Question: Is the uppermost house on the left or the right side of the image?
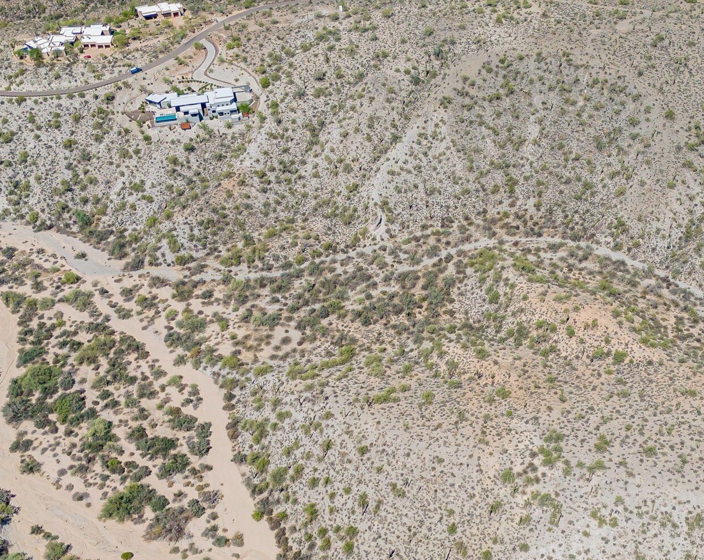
left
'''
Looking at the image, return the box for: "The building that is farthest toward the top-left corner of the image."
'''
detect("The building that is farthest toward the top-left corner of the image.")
[15,25,124,62]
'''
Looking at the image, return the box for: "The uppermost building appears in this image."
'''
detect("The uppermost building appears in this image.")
[136,2,186,26]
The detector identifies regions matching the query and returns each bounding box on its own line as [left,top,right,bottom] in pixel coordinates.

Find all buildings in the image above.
[15,25,124,62]
[145,84,254,130]
[136,2,186,26]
